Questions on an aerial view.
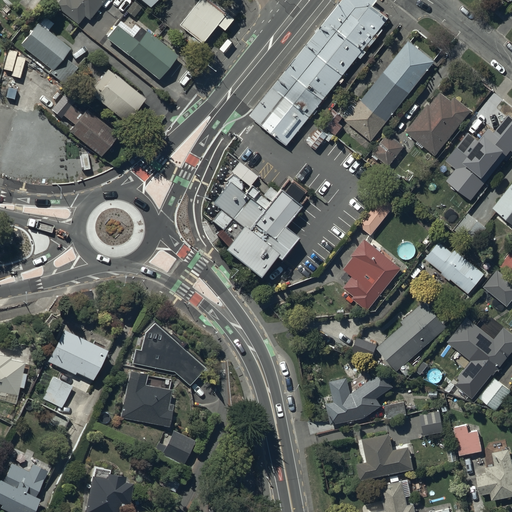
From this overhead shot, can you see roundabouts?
Yes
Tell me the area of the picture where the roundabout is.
left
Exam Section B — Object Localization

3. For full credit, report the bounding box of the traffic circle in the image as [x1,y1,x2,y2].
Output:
[86,198,146,258]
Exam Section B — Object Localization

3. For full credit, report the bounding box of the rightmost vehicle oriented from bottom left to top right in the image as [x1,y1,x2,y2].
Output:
[470,116,485,132]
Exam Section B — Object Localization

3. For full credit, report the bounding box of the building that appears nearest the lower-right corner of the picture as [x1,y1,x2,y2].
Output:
[476,450,512,501]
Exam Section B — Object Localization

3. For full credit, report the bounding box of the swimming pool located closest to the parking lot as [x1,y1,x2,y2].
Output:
[396,240,415,260]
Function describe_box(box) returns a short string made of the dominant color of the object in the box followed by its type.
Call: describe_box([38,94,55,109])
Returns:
white car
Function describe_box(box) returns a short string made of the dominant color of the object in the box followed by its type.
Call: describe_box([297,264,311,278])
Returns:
gray car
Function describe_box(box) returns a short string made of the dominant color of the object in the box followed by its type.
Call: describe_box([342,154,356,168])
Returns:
white car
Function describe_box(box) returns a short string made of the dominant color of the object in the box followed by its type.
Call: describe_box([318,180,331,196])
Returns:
white vehicle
